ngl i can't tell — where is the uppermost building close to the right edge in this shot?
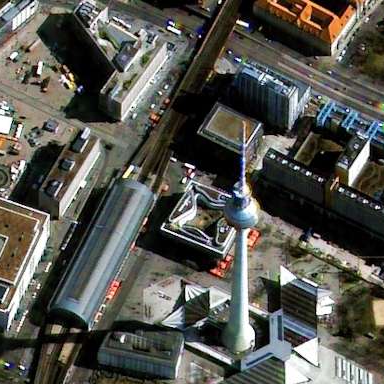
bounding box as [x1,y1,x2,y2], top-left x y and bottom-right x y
[256,0,374,56]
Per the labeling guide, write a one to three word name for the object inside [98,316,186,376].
building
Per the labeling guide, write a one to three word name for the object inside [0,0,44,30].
building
